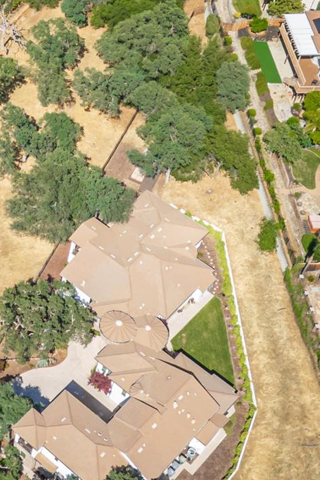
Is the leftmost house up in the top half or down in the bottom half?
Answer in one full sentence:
You can find the leftmost house in the bottom half.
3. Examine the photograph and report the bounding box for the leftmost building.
[12,189,240,480]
